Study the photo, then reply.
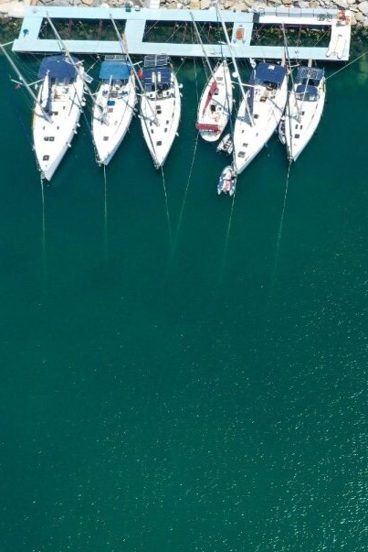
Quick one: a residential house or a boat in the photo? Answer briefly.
boat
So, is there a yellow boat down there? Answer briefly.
No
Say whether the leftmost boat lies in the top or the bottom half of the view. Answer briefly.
top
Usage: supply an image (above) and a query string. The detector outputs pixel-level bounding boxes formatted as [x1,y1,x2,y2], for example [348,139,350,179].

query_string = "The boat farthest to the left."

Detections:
[0,13,91,179]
